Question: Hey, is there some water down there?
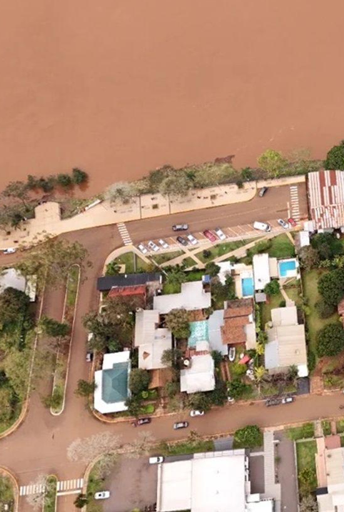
Yes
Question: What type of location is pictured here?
residential area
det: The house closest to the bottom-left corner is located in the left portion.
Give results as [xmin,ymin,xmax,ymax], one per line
[94,350,133,415]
